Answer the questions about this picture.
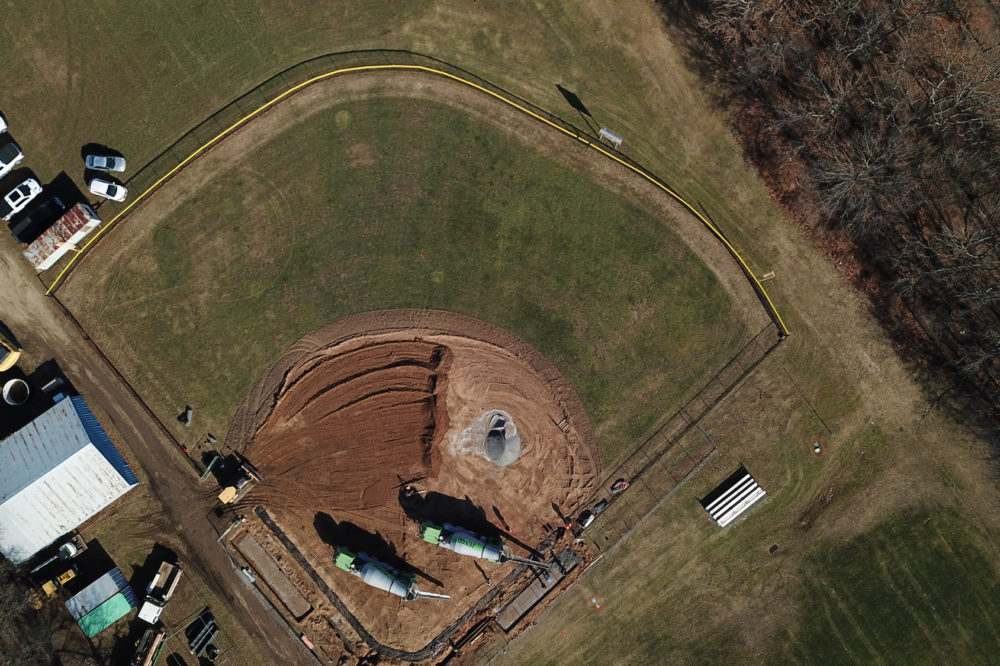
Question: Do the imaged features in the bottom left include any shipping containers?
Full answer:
Yes, the scene does show a shipping container in the bottom left.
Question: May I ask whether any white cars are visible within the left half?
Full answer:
Yes, there is a white car within the left half.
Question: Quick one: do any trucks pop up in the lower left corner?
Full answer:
Yes, you'll find a truck in the lower left corner.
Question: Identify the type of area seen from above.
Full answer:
This image shows a sports ground.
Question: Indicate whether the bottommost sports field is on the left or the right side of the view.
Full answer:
The bottommost sports field appears in the right half of the scene.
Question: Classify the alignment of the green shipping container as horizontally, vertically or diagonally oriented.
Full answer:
The green shipping container has been laid out diagonally relative to the frame.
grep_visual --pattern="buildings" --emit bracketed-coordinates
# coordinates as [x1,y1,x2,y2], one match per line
[0,395,141,568]
[21,203,104,269]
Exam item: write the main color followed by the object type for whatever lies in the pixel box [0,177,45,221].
white truck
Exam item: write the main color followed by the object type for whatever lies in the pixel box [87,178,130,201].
white car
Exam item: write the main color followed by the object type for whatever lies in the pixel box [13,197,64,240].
black truck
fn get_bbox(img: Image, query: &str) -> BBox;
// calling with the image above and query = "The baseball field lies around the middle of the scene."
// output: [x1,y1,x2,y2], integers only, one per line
[57,70,782,666]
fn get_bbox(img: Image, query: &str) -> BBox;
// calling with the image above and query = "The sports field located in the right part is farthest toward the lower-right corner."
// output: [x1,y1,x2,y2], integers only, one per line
[778,522,1000,666]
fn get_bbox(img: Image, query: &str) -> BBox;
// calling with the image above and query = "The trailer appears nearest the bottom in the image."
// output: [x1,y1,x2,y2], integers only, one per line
[138,628,174,666]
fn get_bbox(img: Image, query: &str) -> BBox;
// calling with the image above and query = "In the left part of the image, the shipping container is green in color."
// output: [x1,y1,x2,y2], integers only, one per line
[80,584,142,637]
